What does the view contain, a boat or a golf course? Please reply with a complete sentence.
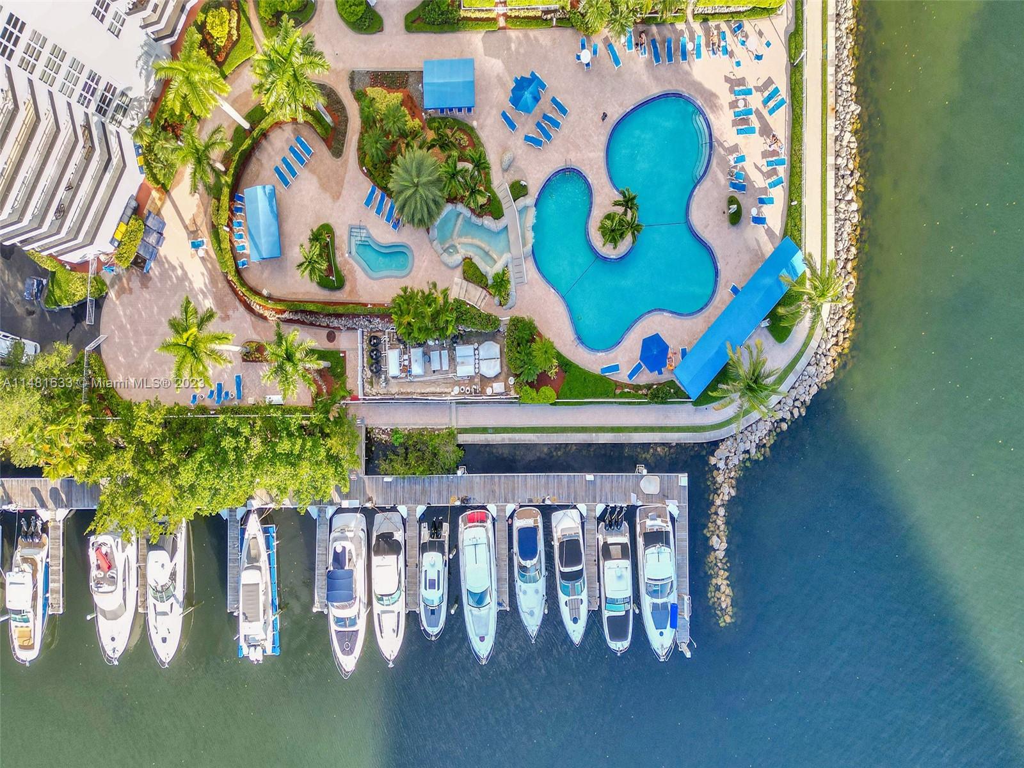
The one in the frame is a boat.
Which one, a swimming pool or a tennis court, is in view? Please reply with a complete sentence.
Looking from above, you can make out a swimming pool.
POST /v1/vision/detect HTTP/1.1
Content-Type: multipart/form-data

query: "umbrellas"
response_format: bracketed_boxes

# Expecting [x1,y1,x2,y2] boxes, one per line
[508,75,543,112]
[636,335,672,370]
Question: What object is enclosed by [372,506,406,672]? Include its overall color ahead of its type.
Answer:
white boat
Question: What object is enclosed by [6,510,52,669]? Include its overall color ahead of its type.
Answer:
white boat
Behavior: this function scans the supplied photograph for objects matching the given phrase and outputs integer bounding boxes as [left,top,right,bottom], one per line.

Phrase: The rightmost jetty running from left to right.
[268,473,689,510]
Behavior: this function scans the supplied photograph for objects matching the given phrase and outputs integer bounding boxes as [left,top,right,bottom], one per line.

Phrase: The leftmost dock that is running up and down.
[48,511,69,614]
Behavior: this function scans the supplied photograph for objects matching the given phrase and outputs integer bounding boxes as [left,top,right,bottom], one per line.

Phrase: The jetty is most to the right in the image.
[675,510,689,642]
